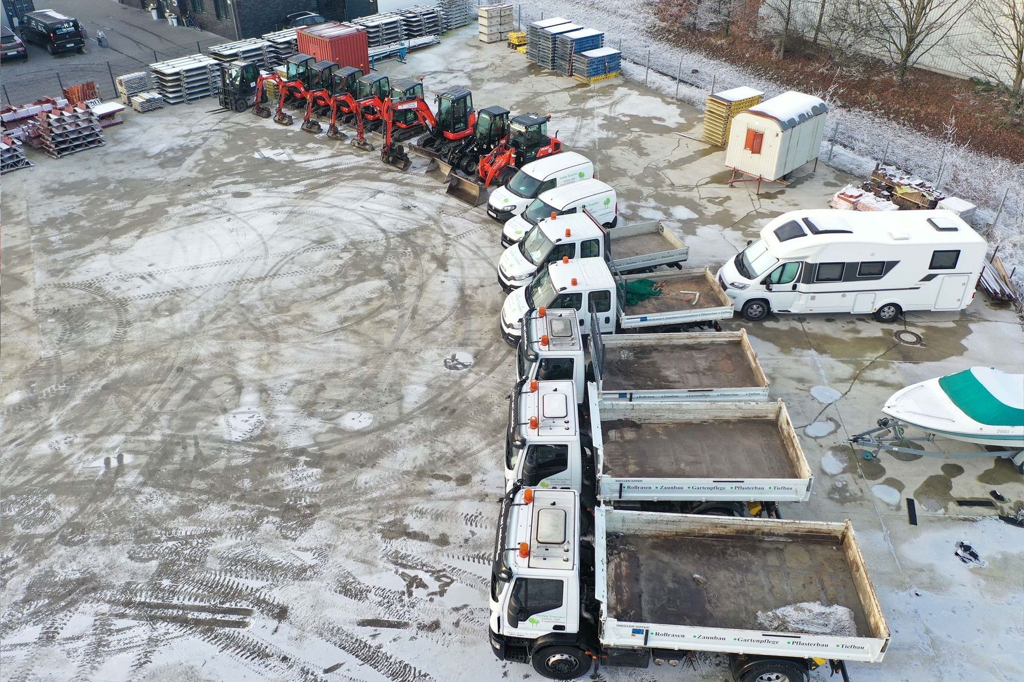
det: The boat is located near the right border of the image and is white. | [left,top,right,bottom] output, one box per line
[880,372,1024,449]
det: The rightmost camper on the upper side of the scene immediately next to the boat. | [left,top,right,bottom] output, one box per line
[715,208,986,323]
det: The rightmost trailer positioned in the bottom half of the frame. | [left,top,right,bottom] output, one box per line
[830,415,1024,463]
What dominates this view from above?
paved ground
